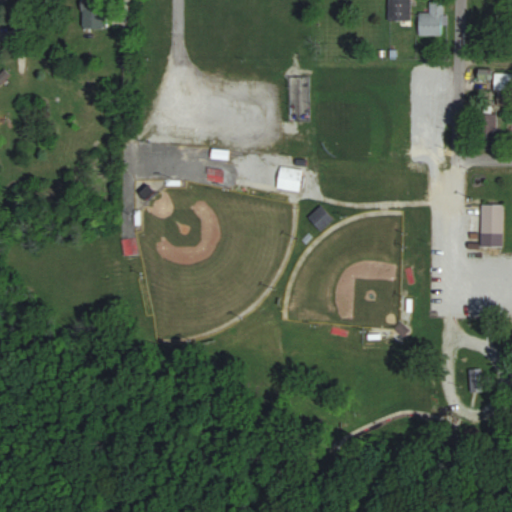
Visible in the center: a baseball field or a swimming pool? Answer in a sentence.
What appears in the center is a baseball field.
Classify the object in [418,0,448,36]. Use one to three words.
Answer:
house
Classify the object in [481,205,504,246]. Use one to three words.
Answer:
building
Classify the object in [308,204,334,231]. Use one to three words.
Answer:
building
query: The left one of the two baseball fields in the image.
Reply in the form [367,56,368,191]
[140,182,298,344]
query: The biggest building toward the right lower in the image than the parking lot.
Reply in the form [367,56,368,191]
[468,369,483,395]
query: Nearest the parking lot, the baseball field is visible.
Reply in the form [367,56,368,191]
[284,210,402,330]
